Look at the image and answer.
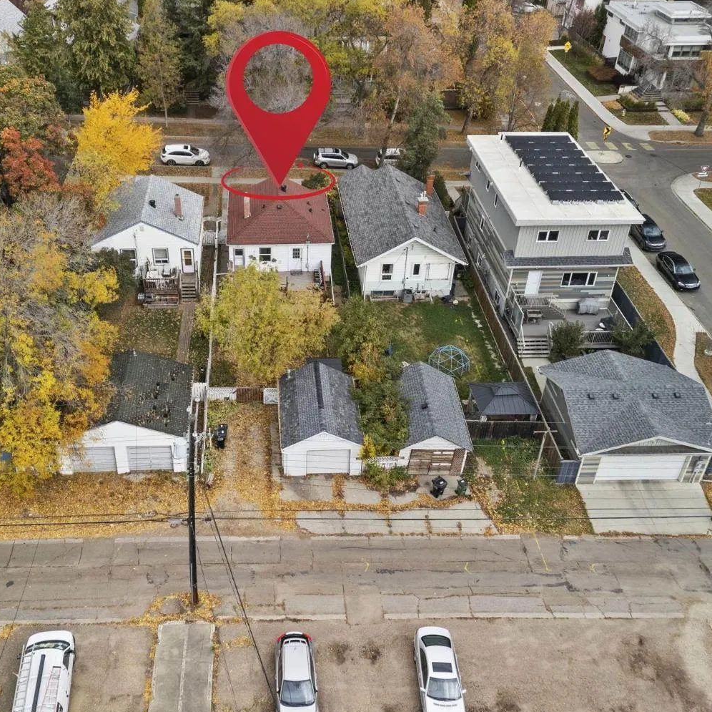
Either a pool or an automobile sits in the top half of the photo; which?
automobile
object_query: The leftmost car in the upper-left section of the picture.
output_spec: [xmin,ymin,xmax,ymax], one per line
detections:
[163,145,208,165]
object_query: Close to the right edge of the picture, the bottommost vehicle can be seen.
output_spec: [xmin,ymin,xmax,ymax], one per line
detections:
[651,255,703,293]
